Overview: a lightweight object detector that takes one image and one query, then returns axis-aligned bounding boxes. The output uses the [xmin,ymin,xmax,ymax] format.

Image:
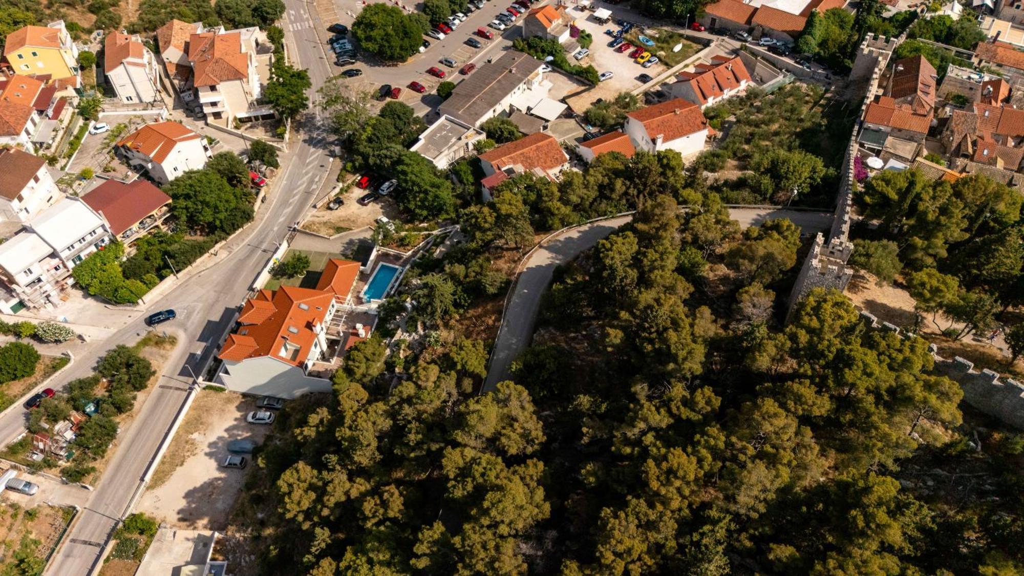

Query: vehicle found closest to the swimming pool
[376,214,395,233]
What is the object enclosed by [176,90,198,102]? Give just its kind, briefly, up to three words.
vehicle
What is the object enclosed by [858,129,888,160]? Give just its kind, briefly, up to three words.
building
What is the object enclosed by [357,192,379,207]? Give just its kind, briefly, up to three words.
car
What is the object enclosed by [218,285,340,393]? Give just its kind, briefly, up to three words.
house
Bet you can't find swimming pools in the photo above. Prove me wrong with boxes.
[362,262,403,302]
